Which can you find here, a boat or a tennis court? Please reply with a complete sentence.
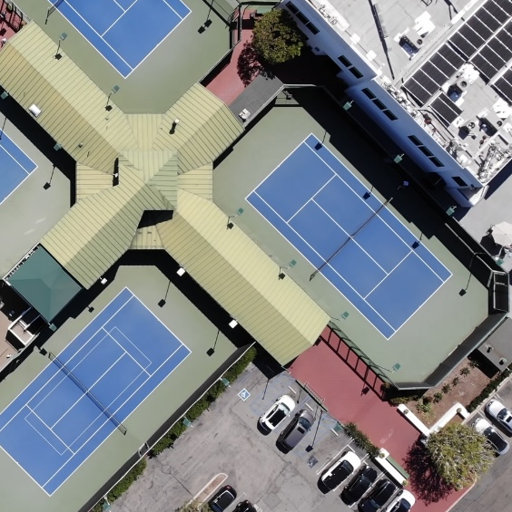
There is a tennis court in the scene.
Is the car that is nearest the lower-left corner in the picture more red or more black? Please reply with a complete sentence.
From above, the car that is nearest the lower-left corner appears black.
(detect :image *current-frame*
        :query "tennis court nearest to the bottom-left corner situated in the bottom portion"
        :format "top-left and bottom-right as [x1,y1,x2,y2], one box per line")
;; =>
[0,247,249,512]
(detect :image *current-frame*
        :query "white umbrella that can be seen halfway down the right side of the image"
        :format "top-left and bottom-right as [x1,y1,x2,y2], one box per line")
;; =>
[489,222,512,246]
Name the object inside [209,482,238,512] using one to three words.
car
